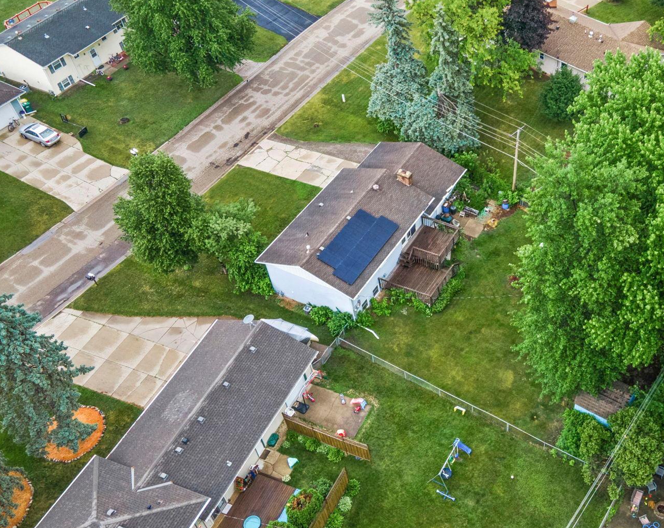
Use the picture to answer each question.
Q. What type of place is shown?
residential area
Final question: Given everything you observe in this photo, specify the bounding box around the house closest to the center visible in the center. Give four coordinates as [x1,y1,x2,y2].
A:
[253,142,469,319]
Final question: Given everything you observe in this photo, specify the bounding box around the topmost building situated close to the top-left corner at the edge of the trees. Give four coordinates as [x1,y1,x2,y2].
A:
[0,0,121,94]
